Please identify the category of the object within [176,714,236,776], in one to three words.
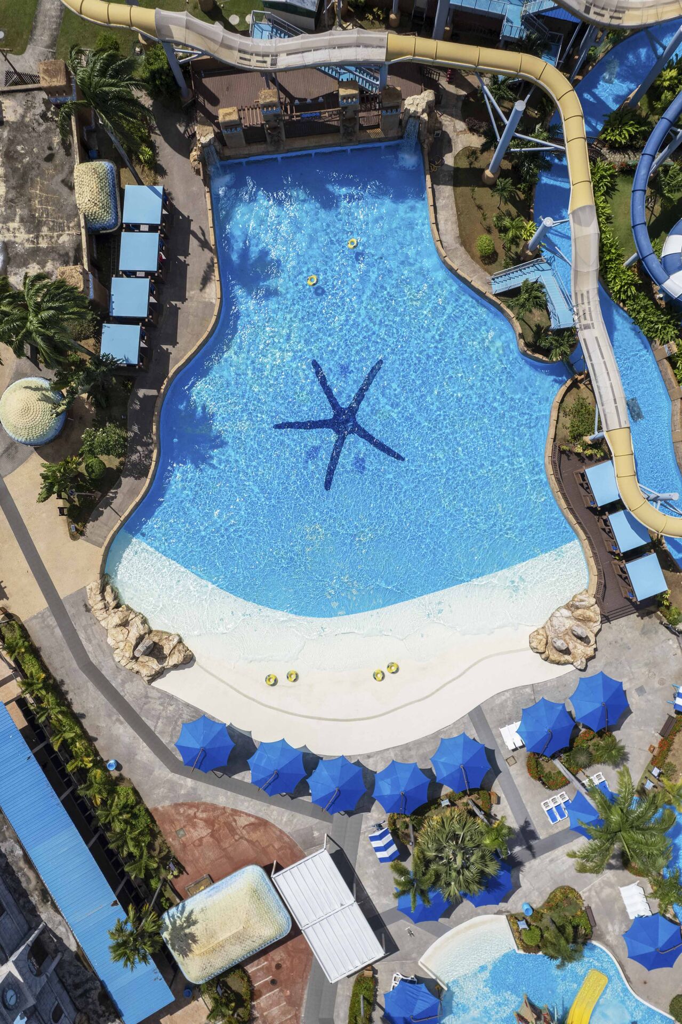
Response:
umbrella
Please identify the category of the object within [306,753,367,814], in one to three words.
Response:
umbrella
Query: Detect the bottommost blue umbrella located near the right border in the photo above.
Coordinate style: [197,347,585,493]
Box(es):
[621,904,682,965]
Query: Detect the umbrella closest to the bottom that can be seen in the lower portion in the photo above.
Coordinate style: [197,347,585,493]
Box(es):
[382,967,451,1024]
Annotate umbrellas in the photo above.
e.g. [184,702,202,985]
[567,669,627,734]
[382,967,451,1024]
[371,757,431,822]
[306,753,367,814]
[457,853,511,908]
[621,904,682,965]
[514,695,574,758]
[176,714,236,776]
[394,862,452,924]
[429,730,490,795]
[247,737,308,797]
